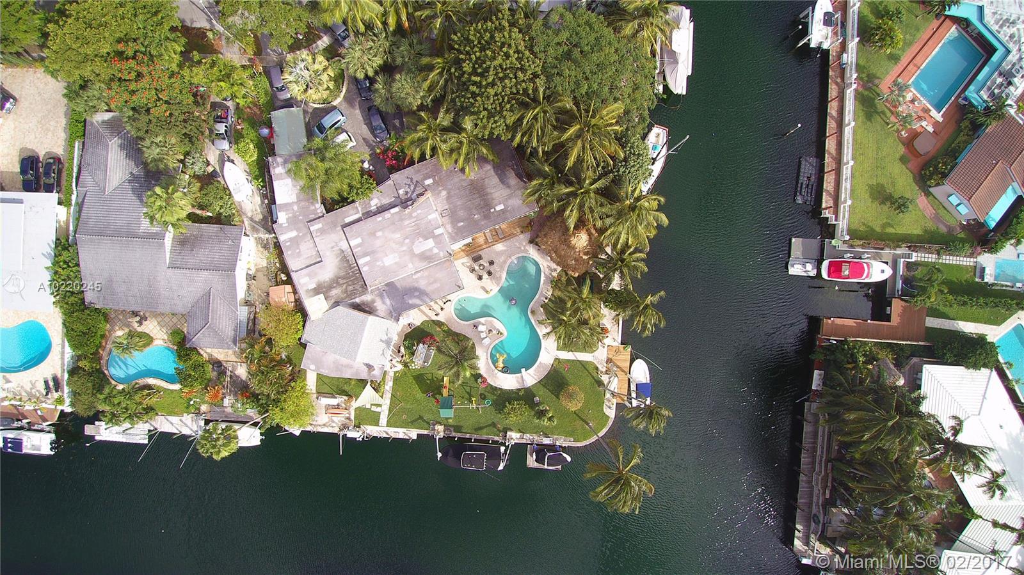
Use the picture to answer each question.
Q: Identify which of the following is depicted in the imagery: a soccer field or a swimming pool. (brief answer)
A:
swimming pool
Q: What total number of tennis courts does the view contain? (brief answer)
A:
zero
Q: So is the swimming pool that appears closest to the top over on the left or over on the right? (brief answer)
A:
right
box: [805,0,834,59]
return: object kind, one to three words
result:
boat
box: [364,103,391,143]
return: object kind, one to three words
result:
car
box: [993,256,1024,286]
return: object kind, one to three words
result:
swimming pool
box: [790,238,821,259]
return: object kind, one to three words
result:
pier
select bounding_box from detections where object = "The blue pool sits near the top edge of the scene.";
[908,22,988,116]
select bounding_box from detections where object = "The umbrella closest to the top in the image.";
[257,125,271,138]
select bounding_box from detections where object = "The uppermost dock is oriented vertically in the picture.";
[796,157,821,204]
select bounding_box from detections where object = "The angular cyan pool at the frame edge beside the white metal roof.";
[994,319,1024,399]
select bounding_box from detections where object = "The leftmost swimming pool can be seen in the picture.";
[0,318,54,376]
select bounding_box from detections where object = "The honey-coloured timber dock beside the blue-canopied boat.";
[607,346,630,402]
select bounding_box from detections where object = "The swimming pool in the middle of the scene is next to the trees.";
[450,252,545,377]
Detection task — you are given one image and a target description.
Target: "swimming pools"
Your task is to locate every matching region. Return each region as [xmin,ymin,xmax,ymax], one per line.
[993,256,1024,286]
[994,319,1024,399]
[0,318,54,376]
[450,252,545,377]
[908,22,988,116]
[104,342,183,387]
